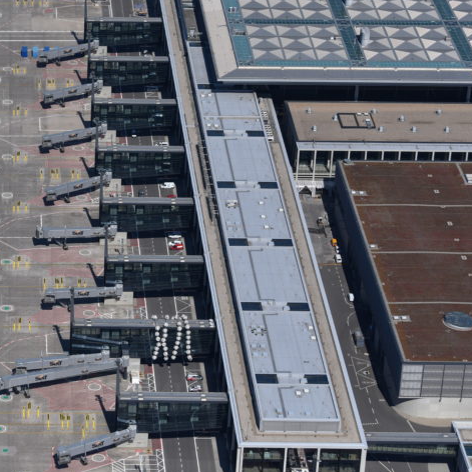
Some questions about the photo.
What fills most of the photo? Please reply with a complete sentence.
Most of the picture is covered by buildings.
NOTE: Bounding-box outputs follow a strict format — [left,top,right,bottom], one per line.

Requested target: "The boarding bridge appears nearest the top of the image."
[32,38,103,70]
